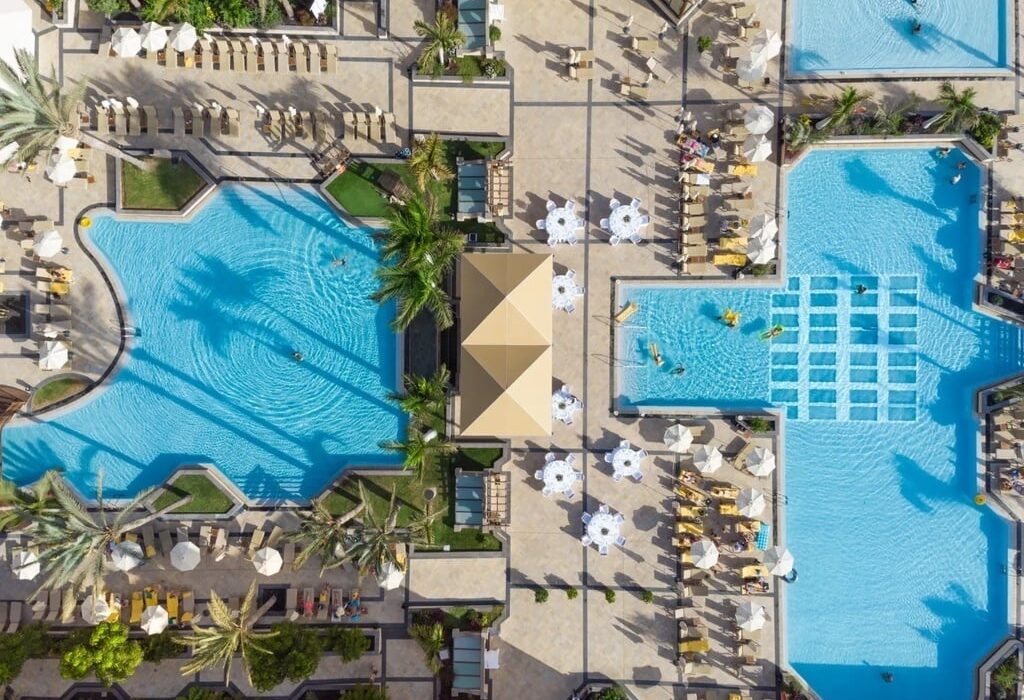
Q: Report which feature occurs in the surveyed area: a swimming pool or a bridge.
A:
swimming pool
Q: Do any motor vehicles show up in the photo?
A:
No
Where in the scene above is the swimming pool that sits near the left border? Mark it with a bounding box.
[5,185,396,502]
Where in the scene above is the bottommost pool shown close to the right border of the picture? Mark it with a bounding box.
[622,150,1024,700]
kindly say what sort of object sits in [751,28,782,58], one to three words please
umbrella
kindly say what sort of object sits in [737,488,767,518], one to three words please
umbrella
